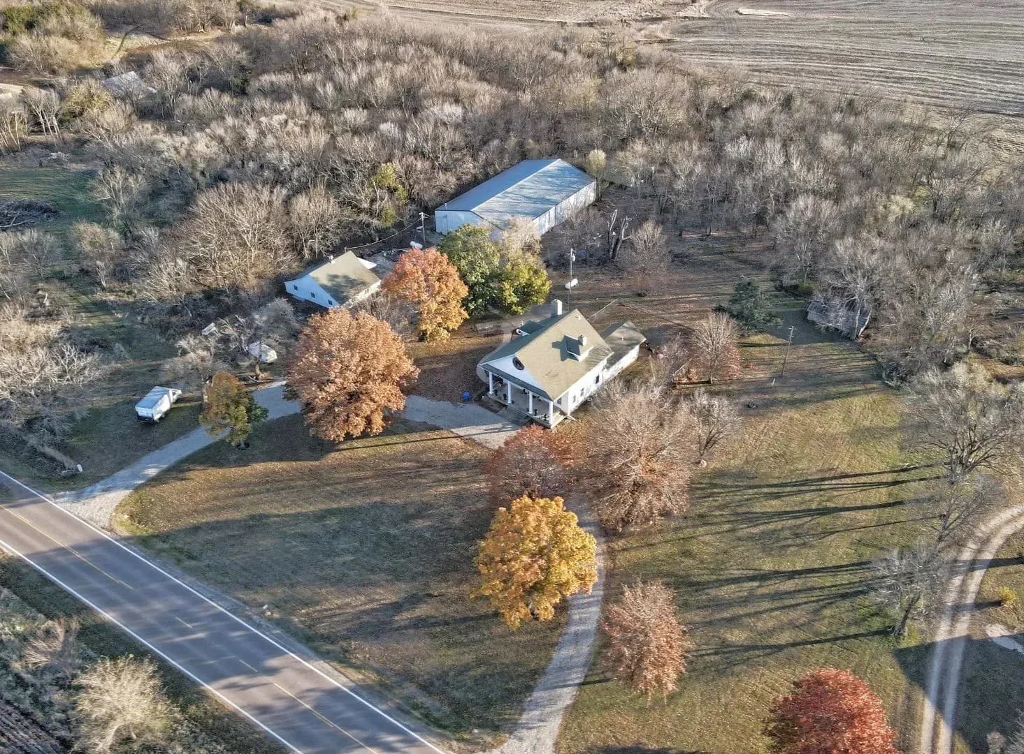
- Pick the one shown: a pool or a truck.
truck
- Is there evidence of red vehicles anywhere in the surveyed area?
No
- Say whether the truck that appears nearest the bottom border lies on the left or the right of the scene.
left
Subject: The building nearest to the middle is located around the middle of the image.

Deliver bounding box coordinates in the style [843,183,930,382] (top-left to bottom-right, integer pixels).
[477,295,645,429]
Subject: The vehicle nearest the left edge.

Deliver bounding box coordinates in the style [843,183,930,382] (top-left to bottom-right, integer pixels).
[135,385,186,422]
